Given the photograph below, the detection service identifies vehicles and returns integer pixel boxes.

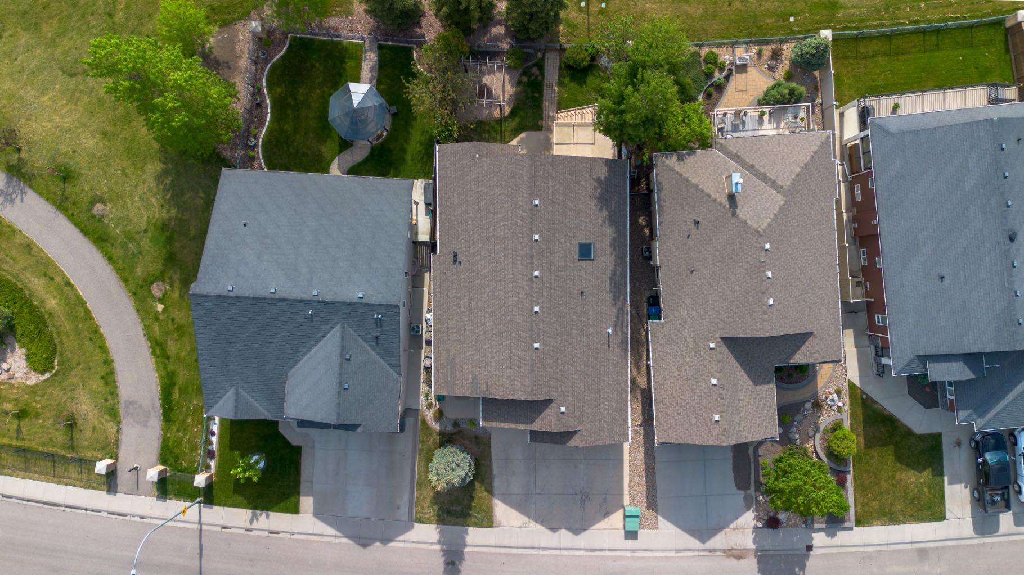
[967,430,1012,513]
[1009,430,1024,496]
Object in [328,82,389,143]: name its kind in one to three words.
gazebo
